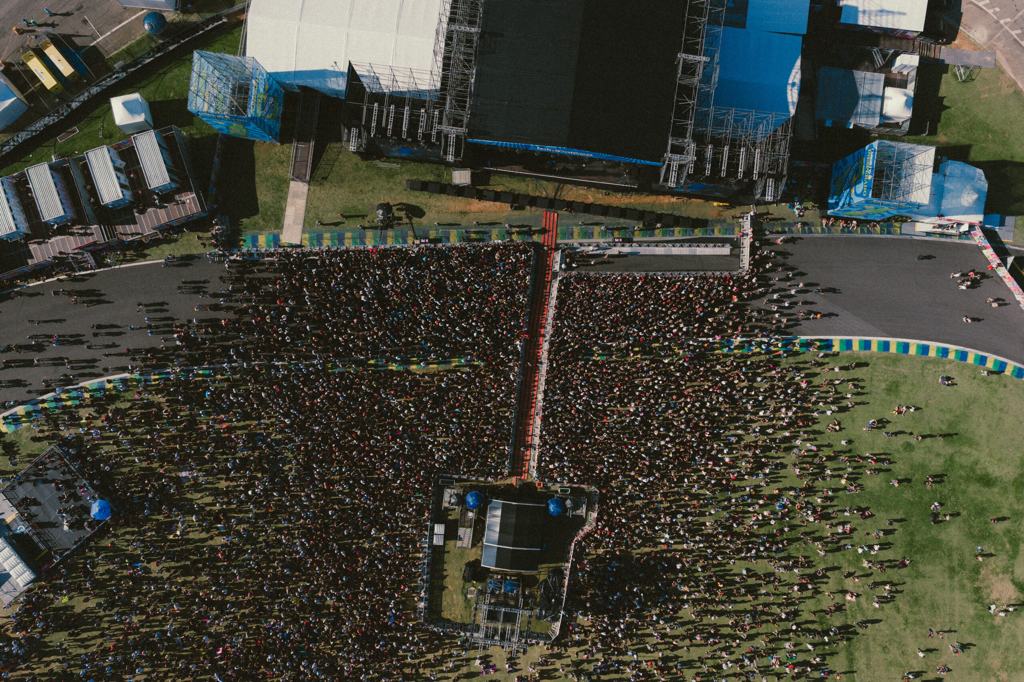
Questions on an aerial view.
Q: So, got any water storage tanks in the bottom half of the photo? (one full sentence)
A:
No, looking in the bottom half of the photo, there is no water storage tank.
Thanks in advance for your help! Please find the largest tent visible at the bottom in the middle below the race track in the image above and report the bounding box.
[481,493,546,573]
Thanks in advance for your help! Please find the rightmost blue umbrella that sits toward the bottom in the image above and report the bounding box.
[547,498,564,514]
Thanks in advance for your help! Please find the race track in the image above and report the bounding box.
[0,237,1024,414]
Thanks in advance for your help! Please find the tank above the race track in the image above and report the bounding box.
[139,10,164,35]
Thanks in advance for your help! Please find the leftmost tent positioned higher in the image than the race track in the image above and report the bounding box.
[0,71,36,142]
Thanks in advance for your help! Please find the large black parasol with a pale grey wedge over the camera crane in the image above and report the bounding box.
[377,201,393,217]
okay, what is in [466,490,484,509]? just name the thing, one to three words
umbrella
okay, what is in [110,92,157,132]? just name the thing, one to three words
tent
